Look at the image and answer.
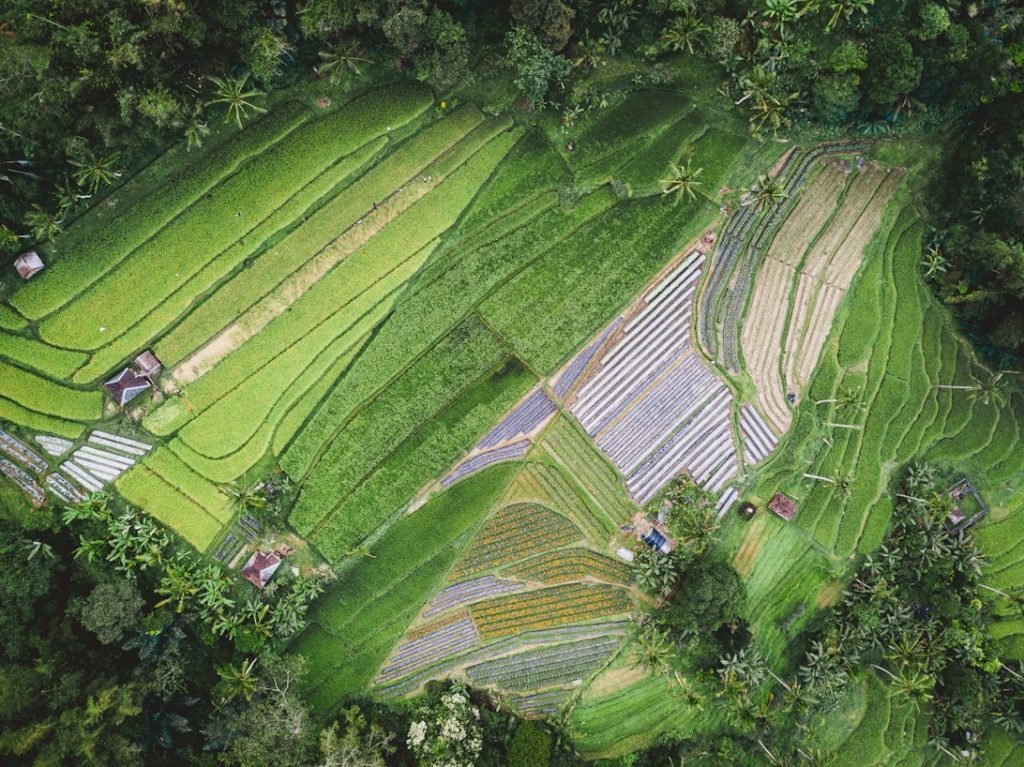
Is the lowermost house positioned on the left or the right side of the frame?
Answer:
left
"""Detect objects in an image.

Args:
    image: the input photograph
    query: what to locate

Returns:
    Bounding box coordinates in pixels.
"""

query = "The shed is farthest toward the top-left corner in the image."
[12,250,49,280]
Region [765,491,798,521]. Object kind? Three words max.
shed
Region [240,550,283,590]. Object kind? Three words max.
house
